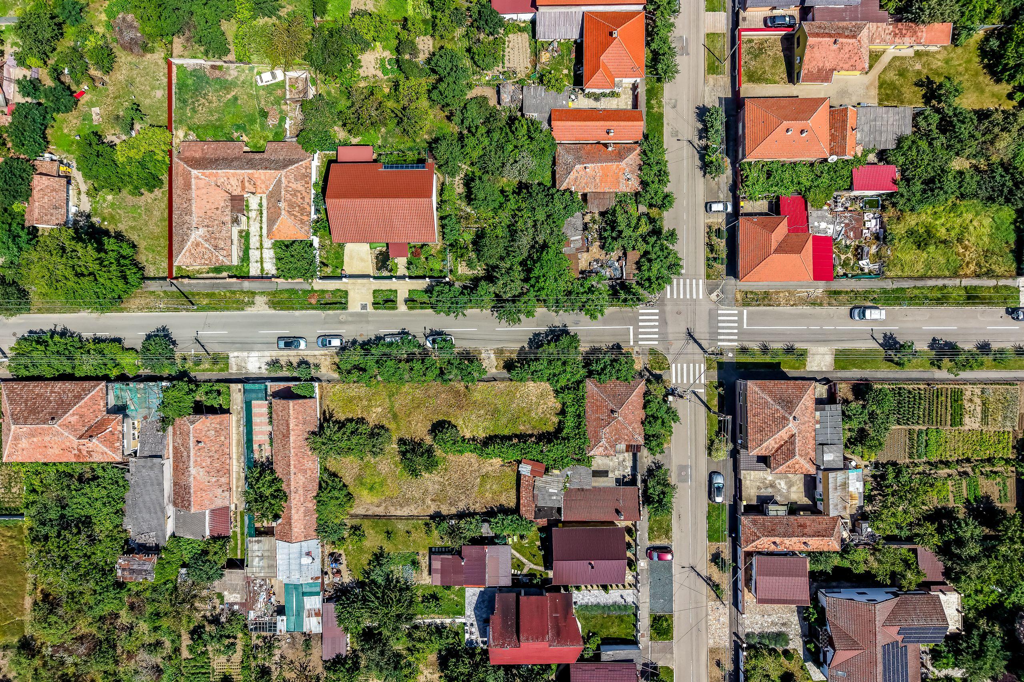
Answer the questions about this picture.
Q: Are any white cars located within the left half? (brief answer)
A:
Yes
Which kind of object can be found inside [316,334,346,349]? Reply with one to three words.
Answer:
car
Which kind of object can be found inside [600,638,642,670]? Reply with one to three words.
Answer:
shed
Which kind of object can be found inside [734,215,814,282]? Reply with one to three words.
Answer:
house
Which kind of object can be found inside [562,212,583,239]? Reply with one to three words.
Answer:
shed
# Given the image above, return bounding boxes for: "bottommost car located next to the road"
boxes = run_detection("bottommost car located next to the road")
[646,547,673,563]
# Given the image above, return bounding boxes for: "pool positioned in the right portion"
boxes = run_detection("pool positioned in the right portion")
[864,196,883,209]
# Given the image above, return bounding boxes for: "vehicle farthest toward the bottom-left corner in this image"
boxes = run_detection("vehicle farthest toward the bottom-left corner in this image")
[277,336,308,351]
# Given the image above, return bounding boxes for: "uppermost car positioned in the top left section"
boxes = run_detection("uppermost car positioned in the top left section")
[255,68,279,87]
